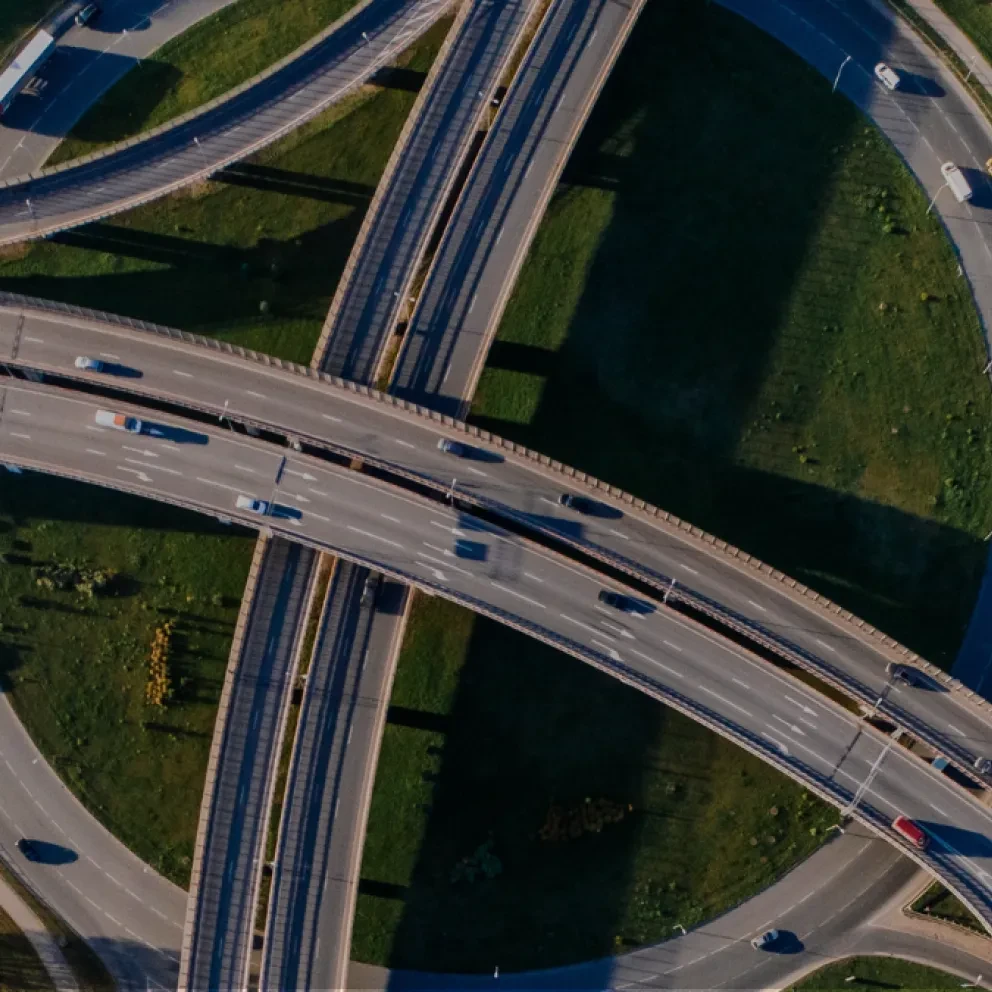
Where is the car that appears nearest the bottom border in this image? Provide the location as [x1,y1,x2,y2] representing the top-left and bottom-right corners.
[750,927,781,950]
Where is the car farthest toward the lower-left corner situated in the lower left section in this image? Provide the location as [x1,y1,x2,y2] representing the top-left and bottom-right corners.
[14,838,41,864]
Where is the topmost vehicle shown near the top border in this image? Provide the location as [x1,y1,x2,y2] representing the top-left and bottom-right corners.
[74,3,100,27]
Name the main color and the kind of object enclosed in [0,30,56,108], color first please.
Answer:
white truck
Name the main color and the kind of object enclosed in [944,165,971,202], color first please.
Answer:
white vehicle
